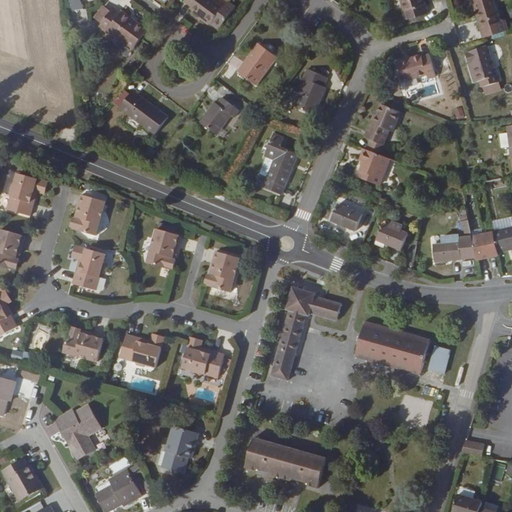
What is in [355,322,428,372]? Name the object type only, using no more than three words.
building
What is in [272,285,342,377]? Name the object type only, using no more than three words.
building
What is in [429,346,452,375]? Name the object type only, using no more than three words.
shed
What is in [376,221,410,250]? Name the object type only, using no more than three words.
house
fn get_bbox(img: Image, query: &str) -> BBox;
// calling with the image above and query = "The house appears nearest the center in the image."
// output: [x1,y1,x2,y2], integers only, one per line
[204,251,238,291]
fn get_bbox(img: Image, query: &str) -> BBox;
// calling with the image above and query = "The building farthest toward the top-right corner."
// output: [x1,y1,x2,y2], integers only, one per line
[472,0,506,37]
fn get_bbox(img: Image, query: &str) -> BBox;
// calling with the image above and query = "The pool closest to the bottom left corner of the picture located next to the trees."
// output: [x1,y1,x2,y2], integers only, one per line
[130,376,157,392]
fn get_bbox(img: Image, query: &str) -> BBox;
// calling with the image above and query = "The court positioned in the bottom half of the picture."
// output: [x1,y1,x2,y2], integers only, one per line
[402,394,434,426]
